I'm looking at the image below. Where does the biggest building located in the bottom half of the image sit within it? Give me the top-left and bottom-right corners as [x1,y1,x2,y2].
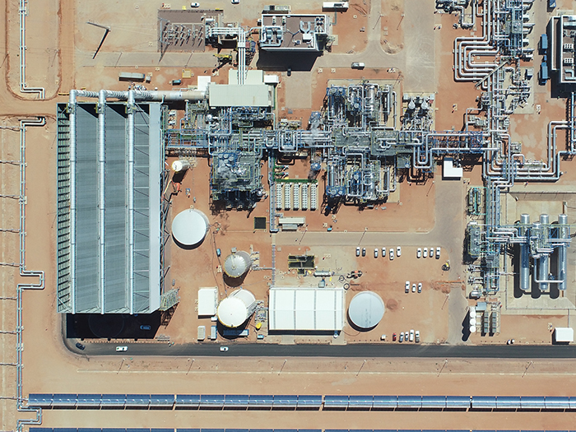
[269,287,343,331]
